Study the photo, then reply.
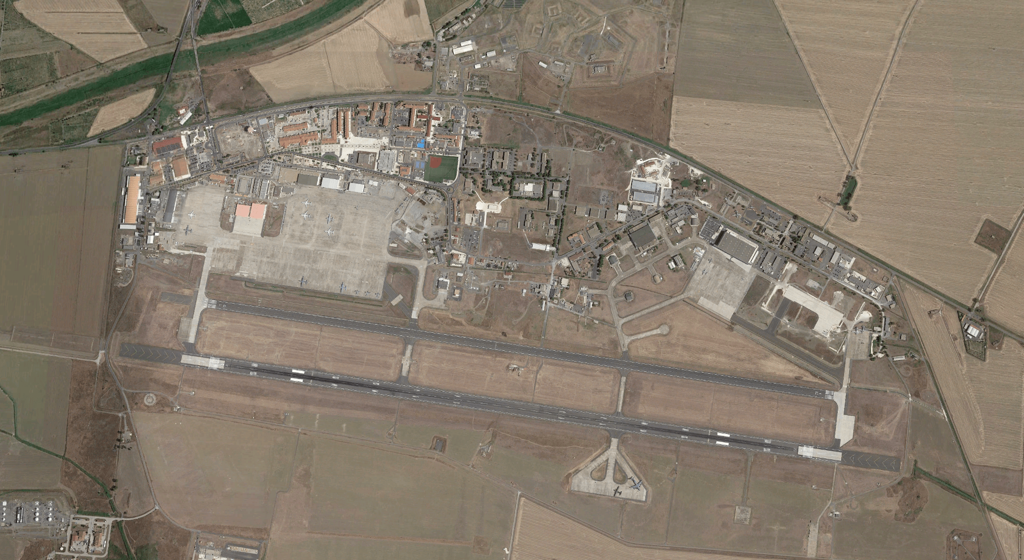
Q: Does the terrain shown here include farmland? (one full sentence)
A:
Yes, farmland can be seen from above here.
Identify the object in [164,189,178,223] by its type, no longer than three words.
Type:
hangar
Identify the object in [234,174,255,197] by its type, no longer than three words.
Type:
building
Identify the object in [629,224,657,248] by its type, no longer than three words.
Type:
hangar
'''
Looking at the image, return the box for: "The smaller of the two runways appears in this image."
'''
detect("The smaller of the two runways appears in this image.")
[208,299,835,400]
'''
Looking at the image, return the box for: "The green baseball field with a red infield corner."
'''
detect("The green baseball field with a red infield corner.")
[424,155,458,182]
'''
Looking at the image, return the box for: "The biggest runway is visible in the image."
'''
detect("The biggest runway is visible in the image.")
[179,351,844,464]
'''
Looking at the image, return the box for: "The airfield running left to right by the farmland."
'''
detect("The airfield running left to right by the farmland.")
[118,184,904,503]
